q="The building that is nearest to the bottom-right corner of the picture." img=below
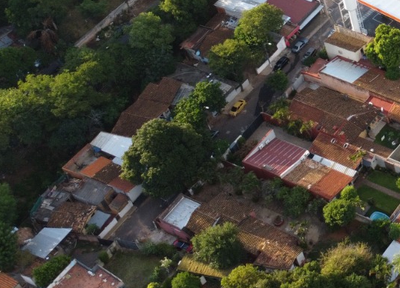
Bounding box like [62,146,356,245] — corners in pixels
[381,245,400,278]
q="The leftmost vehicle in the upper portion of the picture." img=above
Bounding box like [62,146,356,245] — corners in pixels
[230,99,246,117]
